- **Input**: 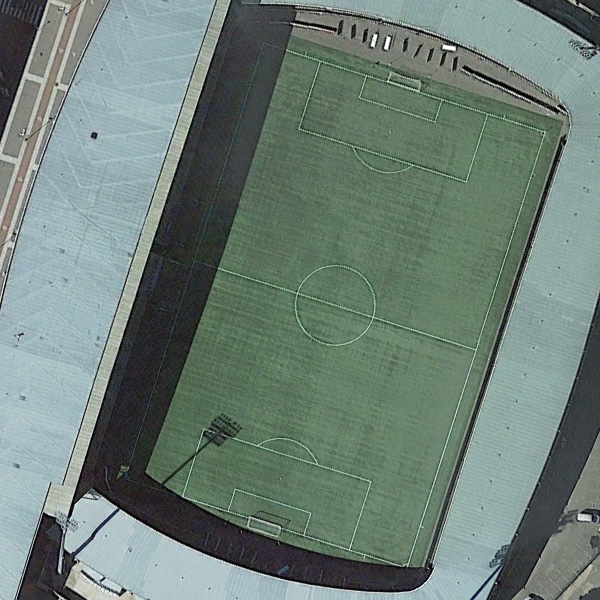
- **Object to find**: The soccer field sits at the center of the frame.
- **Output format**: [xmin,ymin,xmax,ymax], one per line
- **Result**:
[100,22,563,576]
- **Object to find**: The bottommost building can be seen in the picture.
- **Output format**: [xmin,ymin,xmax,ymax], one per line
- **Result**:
[64,561,139,600]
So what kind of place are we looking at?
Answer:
sports ground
